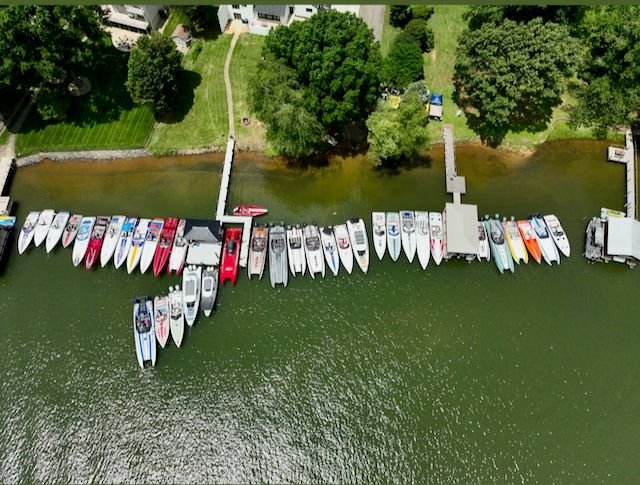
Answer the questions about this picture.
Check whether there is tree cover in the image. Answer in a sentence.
Yes, tree cover shows up in the scene.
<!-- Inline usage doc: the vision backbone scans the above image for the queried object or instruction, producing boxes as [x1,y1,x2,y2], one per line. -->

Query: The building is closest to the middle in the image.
[441,205,479,264]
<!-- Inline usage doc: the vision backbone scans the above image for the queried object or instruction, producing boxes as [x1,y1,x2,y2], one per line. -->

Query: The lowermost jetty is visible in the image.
[186,240,222,268]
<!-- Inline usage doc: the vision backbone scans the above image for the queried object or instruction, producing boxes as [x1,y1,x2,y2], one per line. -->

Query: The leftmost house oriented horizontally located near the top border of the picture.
[97,0,181,34]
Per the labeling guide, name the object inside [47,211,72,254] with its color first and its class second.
white boat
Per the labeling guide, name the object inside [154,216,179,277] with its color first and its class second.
red boat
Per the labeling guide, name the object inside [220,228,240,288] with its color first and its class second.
red boat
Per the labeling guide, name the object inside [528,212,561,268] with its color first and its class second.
white boat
